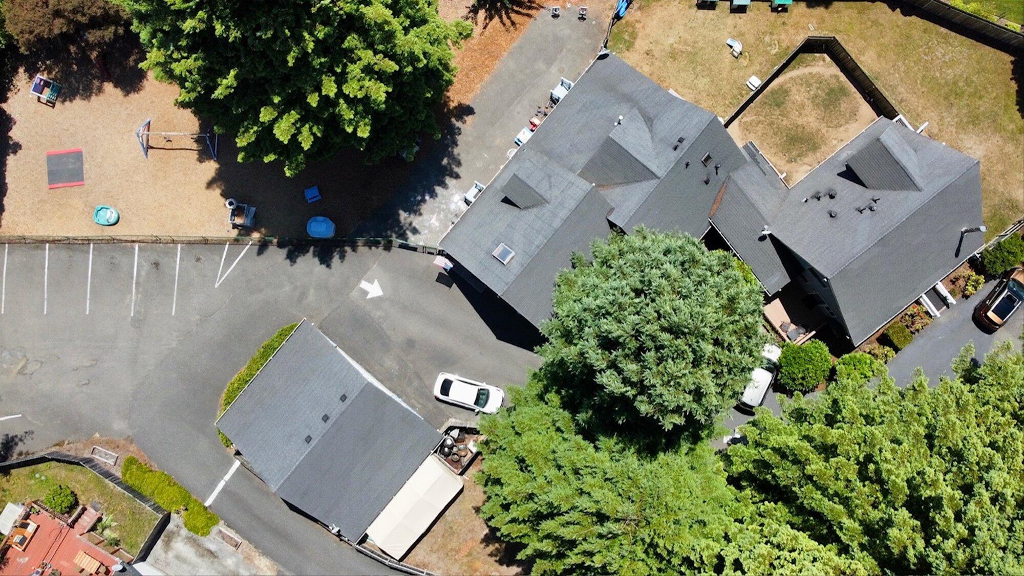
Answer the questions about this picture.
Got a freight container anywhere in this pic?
No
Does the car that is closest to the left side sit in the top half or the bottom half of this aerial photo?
bottom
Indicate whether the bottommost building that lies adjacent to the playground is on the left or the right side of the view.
left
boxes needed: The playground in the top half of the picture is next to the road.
[0,0,546,241]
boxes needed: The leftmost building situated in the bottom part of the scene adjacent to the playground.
[214,319,443,543]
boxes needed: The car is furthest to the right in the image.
[964,265,1024,334]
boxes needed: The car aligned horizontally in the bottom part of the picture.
[432,375,505,417]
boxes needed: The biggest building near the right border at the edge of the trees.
[765,116,989,347]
